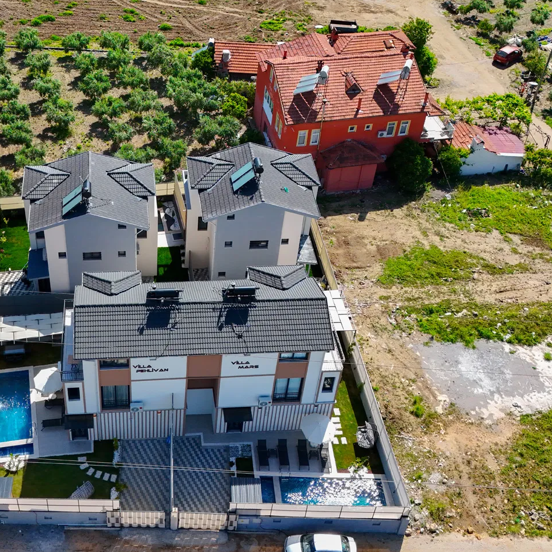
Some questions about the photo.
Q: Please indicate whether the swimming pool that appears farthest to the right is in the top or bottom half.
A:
bottom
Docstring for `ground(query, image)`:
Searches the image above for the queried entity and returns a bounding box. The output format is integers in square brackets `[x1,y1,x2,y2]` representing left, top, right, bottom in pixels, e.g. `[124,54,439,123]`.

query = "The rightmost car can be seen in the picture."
[494,45,525,64]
